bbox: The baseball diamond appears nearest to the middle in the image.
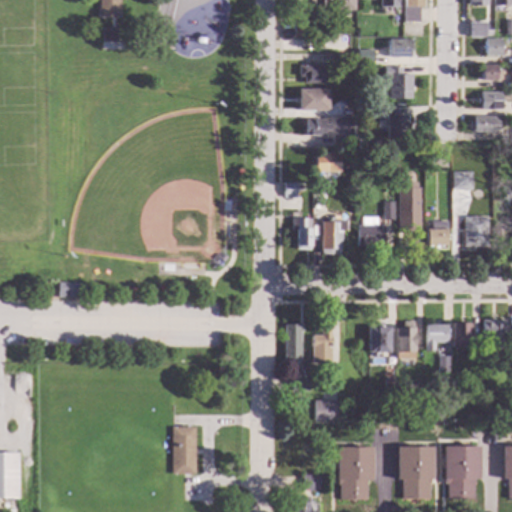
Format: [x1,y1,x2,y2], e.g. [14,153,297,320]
[70,105,226,263]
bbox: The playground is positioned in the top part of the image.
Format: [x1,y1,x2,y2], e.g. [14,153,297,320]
[174,0,230,59]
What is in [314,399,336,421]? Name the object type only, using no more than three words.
building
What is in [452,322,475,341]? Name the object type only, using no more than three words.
house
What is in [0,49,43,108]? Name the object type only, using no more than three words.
soccer field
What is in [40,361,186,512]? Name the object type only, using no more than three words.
sports field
